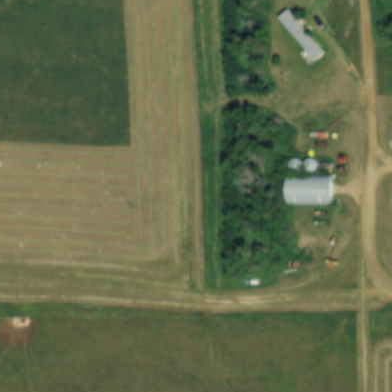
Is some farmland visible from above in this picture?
Yes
